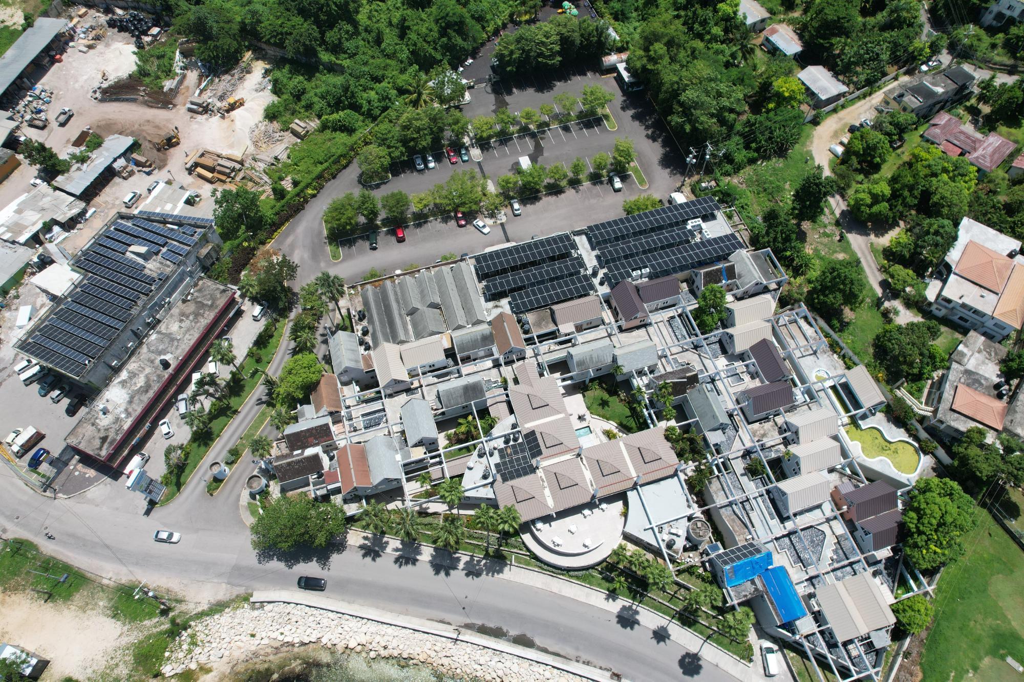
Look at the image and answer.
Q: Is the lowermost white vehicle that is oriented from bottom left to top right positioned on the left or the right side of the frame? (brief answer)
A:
left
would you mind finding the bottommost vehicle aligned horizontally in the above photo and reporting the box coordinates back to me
[295,574,329,591]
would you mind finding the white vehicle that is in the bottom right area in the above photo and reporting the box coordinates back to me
[760,642,779,679]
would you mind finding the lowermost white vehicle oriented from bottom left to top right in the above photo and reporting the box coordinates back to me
[120,450,151,481]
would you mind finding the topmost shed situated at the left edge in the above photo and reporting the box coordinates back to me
[0,18,72,107]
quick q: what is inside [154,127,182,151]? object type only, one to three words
work vehicle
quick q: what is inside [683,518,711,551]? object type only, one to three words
storage tank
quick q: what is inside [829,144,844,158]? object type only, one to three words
car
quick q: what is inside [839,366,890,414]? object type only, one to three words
building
